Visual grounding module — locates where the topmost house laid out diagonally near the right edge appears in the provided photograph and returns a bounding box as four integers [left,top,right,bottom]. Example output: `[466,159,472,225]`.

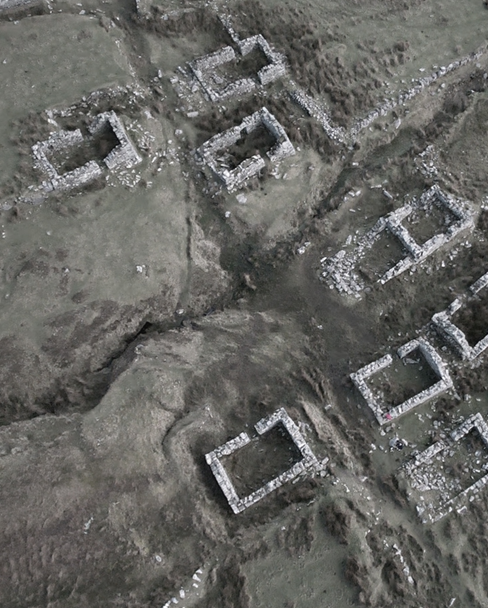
[322,183,477,298]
